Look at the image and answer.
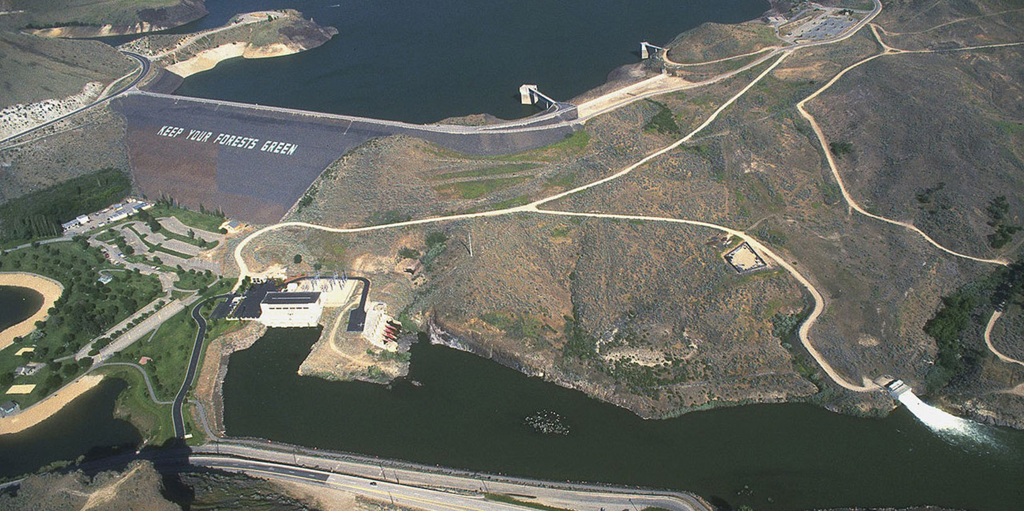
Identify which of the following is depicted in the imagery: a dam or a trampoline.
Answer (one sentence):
I can see a dam in this picture.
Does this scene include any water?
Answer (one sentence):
Yes, some water is visible.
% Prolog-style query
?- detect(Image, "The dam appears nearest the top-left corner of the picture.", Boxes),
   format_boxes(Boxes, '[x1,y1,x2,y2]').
[113,92,585,223]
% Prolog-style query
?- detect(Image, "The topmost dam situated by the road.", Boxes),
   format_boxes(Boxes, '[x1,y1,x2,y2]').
[575,68,675,114]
